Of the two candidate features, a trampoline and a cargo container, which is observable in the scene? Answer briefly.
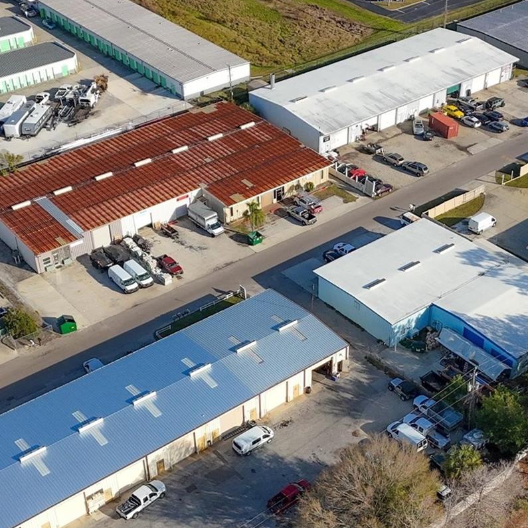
cargo container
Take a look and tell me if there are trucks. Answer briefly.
Yes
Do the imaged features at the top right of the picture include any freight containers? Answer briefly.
Yes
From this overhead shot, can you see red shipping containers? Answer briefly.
Yes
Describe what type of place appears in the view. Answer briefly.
industrial area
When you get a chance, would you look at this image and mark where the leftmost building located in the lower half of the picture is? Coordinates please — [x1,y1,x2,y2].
[0,287,352,528]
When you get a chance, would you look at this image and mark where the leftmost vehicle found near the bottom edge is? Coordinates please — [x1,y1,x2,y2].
[117,483,166,519]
